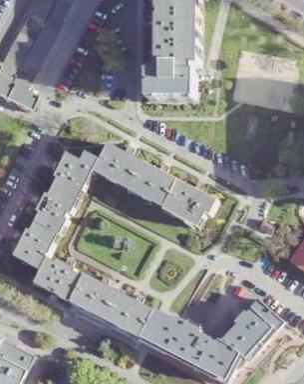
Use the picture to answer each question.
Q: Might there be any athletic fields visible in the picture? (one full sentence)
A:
Yes, there is an athletic field in the image.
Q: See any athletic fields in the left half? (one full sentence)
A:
No, no athletic field can be made out in the left half.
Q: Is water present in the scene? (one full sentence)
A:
No, the scene doesn't show any water.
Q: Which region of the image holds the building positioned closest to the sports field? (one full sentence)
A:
The building positioned closest to the sports field is located in the top region of the scene.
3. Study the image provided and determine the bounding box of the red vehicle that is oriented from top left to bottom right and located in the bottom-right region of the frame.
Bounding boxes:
[231,284,246,299]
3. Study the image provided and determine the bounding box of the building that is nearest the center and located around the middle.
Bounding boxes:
[93,143,222,228]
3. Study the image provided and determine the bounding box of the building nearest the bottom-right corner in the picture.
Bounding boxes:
[223,300,288,356]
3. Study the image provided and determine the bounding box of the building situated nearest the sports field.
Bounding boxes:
[141,0,208,101]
